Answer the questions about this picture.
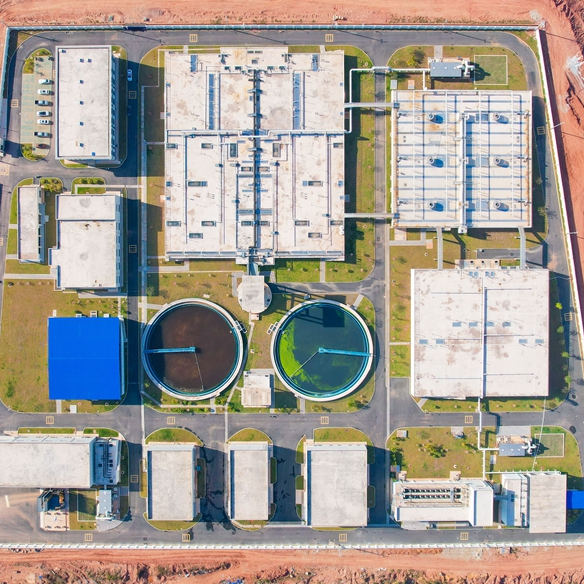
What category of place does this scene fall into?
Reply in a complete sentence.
The area seen from above is an industrial area.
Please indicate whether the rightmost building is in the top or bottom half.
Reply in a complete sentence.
It is in the bottom half that the rightmost building appears.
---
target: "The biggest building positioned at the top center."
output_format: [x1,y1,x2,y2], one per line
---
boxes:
[164,47,345,265]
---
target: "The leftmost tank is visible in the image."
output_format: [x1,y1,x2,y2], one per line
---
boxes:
[142,298,244,400]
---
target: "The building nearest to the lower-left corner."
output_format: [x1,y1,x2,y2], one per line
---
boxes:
[0,434,124,487]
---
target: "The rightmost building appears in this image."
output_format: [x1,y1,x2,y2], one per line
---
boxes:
[522,469,567,533]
